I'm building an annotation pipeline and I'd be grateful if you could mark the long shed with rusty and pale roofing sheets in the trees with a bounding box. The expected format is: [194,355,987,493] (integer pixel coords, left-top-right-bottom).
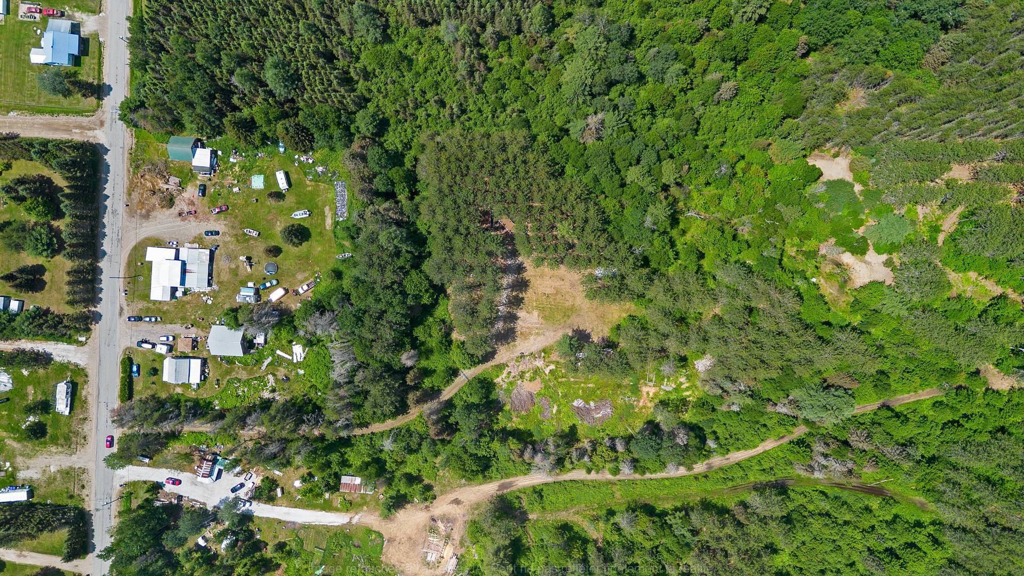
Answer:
[341,474,372,493]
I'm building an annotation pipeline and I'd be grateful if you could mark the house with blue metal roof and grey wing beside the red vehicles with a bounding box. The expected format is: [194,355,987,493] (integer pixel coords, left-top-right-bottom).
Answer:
[29,19,84,68]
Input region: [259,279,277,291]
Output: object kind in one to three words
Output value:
vehicle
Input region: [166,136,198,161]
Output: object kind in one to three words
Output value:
barn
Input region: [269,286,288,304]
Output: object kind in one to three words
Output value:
vehicle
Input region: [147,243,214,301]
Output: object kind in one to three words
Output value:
house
